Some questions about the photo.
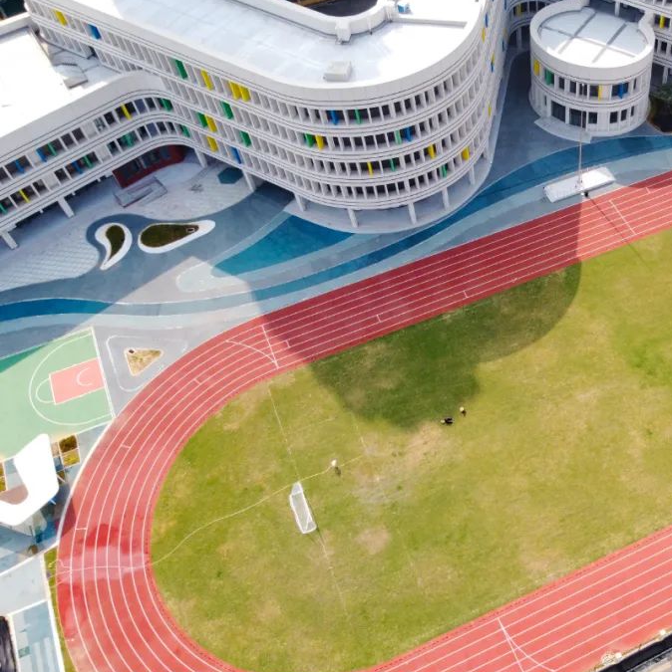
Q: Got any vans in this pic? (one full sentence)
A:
No, I find no van anywhere in the image.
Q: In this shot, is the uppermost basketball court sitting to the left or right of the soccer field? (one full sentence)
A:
Looking at the photo, the uppermost basketball court lies to the left of the soccer field.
